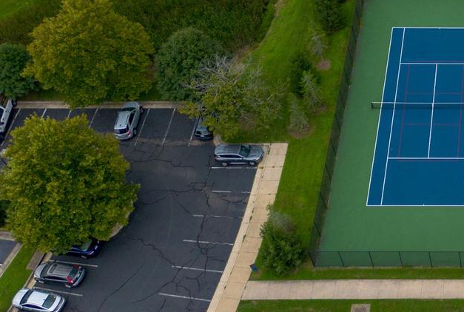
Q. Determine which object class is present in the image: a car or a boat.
car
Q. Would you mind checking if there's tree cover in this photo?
Yes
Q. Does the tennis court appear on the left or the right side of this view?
right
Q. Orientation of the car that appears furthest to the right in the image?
from left to right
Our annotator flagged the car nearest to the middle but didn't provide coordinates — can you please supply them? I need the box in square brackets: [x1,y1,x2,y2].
[212,144,264,167]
